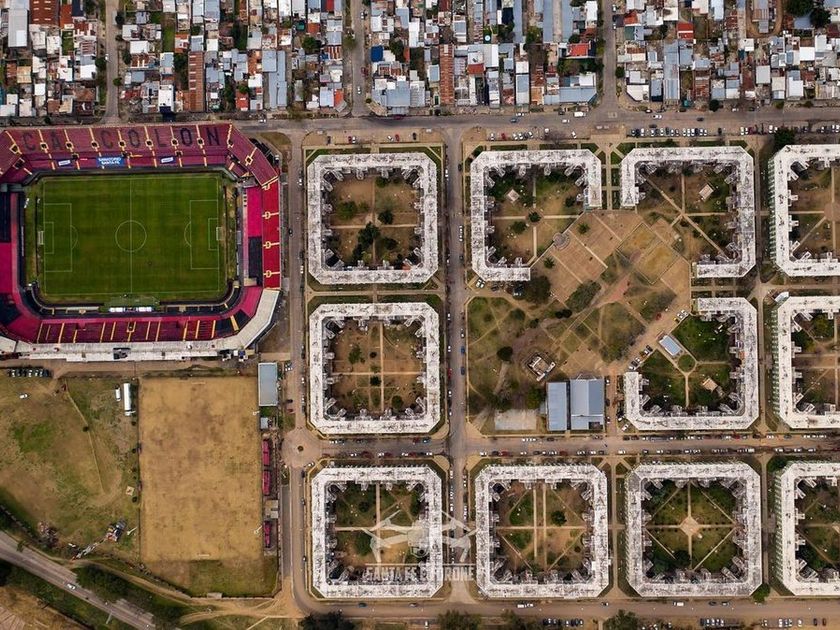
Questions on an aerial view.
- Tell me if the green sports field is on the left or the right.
left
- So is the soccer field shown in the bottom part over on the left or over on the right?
left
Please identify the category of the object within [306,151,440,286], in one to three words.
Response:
building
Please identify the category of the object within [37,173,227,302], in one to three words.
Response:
sports field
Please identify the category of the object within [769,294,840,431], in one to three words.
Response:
building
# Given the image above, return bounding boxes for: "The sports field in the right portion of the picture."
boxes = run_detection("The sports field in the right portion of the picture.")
[616,222,680,284]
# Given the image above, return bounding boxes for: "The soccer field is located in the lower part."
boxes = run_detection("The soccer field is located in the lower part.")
[140,377,262,561]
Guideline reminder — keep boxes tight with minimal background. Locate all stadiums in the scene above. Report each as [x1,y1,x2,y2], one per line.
[0,123,290,361]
